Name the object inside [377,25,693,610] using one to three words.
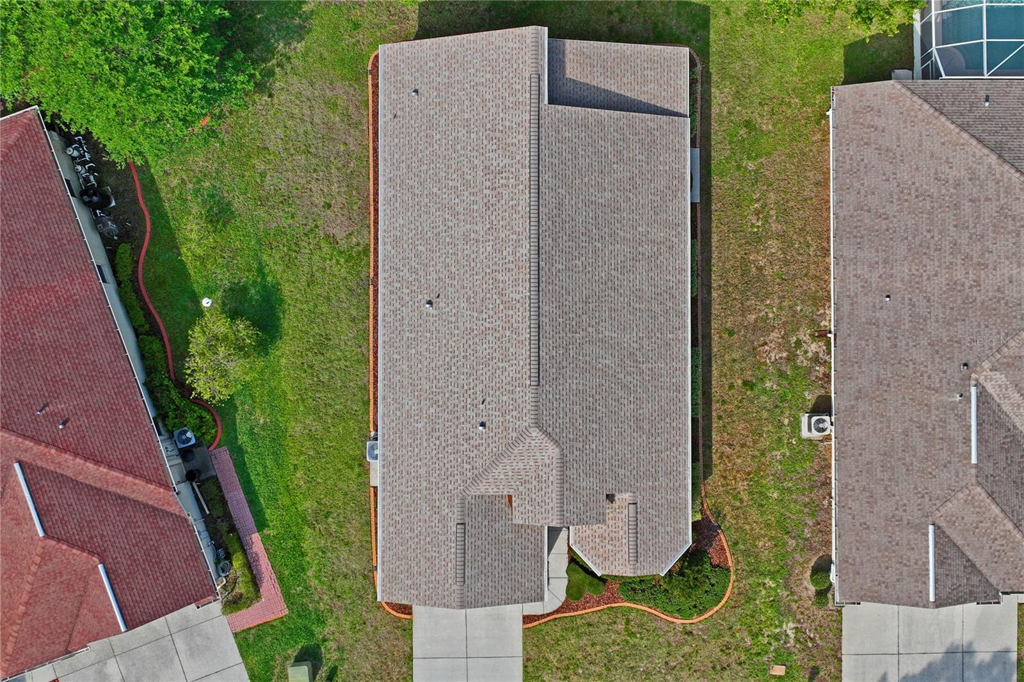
house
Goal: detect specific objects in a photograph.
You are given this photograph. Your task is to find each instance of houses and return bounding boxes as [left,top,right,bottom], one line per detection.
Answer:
[818,80,1024,609]
[0,104,224,682]
[377,25,693,610]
